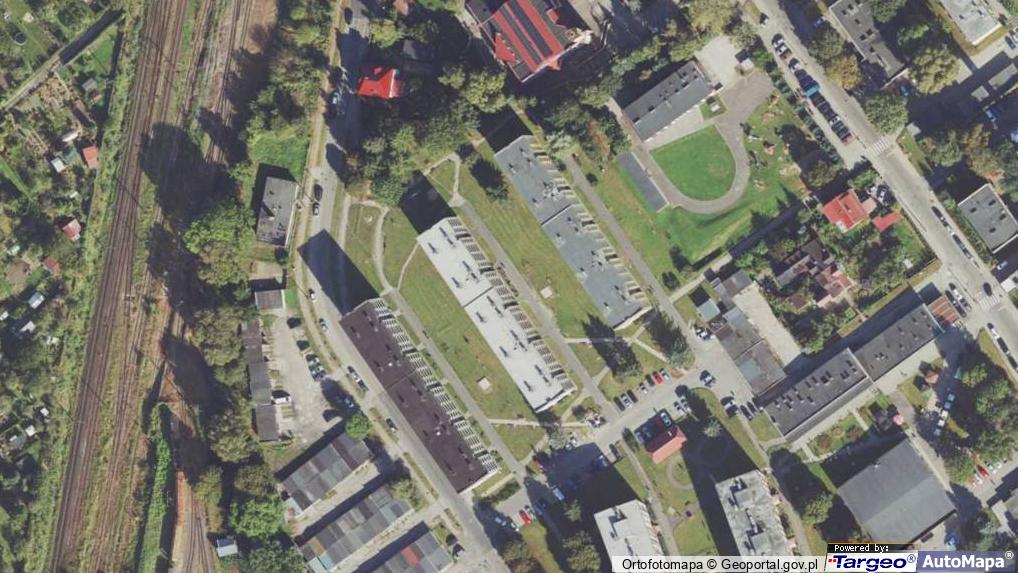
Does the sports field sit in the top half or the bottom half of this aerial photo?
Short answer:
top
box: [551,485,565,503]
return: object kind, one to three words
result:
vehicle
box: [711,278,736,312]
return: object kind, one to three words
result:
shed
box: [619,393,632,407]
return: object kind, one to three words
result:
vehicle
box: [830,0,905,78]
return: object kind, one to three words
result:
building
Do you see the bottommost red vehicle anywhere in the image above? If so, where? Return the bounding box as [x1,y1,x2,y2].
[519,509,532,524]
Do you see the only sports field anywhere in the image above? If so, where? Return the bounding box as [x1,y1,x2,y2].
[635,110,754,213]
